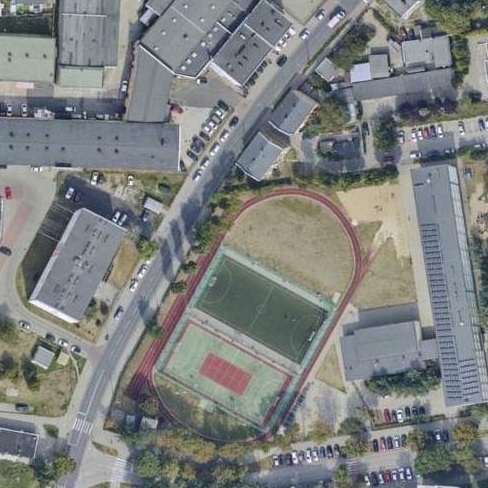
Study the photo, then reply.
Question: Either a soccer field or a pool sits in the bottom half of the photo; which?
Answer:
soccer field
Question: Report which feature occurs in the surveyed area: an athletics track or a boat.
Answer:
athletics track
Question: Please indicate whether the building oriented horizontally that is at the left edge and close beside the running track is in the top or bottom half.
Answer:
top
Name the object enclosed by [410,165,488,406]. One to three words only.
building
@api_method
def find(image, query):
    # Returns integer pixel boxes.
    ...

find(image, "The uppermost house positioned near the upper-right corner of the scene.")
[387,0,419,18]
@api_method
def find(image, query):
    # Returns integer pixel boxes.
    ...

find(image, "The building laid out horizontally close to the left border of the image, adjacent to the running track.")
[0,117,181,171]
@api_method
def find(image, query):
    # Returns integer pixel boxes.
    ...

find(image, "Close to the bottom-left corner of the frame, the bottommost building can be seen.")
[0,427,39,464]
